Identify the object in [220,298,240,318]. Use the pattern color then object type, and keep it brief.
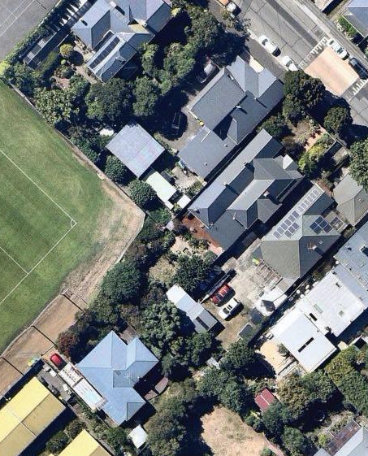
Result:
white car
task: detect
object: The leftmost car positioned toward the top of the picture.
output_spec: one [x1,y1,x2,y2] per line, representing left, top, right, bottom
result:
[167,108,183,133]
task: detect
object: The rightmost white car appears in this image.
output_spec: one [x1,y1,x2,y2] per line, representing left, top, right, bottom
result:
[327,37,349,61]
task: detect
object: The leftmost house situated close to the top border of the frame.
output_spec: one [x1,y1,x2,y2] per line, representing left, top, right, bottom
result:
[70,0,173,82]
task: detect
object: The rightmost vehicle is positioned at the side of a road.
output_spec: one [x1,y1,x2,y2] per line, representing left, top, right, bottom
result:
[348,56,368,81]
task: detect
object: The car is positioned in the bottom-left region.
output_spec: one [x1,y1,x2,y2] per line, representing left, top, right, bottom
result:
[47,351,66,370]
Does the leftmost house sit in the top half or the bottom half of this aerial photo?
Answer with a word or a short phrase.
bottom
